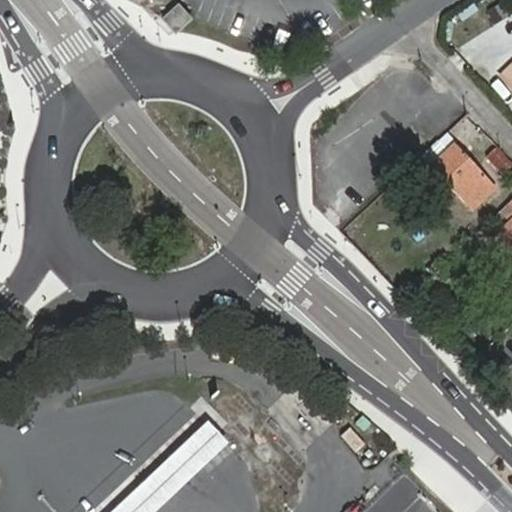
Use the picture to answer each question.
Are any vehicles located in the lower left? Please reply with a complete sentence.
Yes, there is a vehicle in the lower left.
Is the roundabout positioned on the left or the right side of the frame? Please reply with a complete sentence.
It is on the left.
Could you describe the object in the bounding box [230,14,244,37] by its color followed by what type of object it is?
white car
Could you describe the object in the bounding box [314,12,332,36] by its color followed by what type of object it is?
white car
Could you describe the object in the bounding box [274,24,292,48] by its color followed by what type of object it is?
white vehicle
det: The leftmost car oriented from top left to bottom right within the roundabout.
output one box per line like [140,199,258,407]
[230,116,248,138]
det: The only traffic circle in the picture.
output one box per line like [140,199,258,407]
[24,34,300,322]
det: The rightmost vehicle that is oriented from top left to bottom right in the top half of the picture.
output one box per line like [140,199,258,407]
[344,184,365,206]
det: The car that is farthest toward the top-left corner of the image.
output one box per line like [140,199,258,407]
[4,13,20,34]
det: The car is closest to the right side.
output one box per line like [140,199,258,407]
[440,378,461,400]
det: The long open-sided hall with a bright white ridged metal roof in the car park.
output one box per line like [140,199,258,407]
[112,422,228,512]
